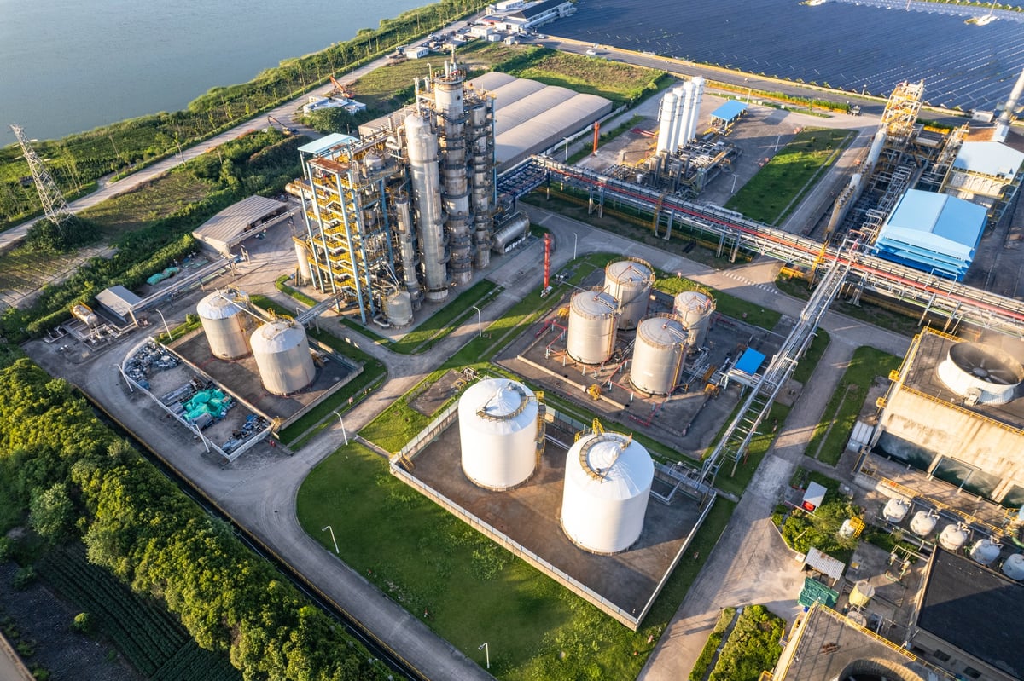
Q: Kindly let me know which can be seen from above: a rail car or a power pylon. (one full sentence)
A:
Looking from above, you can make out a power pylon.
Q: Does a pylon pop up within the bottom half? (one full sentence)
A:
No, there's no pylon to be seen within the bottom half.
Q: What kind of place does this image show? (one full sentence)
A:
This image shows an industrial area.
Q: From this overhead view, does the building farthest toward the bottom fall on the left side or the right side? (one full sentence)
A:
The building farthest toward the bottom sits on the right side.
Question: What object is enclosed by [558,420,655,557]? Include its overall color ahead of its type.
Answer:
white storage tank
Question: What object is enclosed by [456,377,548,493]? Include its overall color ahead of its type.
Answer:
white storage tank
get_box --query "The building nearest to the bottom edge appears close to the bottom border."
[901,546,1024,681]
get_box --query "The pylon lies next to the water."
[6,120,78,228]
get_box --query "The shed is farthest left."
[96,284,151,320]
